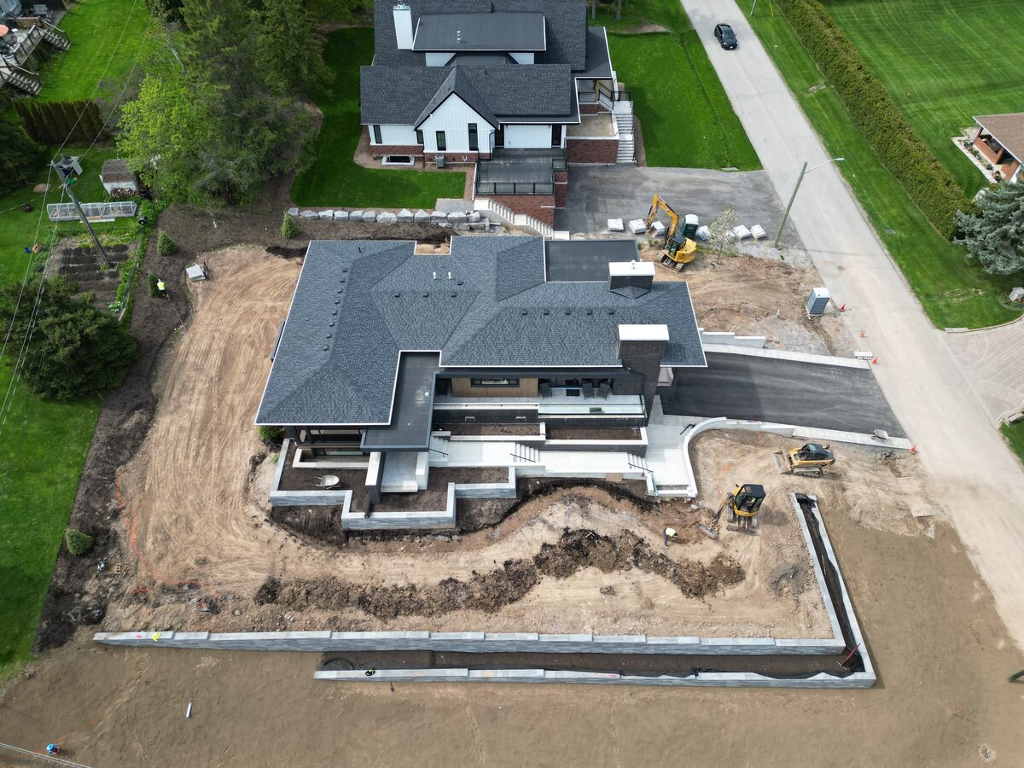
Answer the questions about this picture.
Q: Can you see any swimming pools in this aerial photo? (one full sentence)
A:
No, the frame has no swimming pool in it.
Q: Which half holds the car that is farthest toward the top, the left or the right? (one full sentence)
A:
The car that is farthest toward the top sits on the right side.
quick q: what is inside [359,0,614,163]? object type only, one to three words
house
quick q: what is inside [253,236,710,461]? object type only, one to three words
house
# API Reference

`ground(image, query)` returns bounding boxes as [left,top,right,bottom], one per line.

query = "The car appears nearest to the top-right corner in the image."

[713,19,738,46]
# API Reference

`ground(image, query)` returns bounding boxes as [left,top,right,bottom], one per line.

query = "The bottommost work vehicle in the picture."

[702,483,773,539]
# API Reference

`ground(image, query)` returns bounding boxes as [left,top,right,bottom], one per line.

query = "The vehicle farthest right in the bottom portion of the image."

[770,441,844,487]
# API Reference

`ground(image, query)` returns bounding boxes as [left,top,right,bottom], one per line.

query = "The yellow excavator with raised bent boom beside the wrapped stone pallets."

[643,190,703,270]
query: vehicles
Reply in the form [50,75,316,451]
[713,19,738,46]
[770,441,844,487]
[643,190,703,270]
[702,483,773,539]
